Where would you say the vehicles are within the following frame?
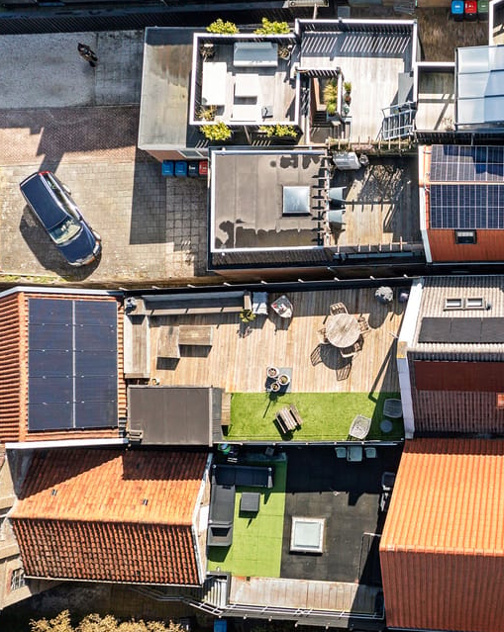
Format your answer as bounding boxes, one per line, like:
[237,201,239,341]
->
[20,166,100,262]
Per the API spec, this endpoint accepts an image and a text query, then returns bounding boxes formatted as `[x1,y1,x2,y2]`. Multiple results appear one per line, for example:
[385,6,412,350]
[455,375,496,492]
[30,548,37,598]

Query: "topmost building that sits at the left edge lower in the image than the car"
[0,282,128,442]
